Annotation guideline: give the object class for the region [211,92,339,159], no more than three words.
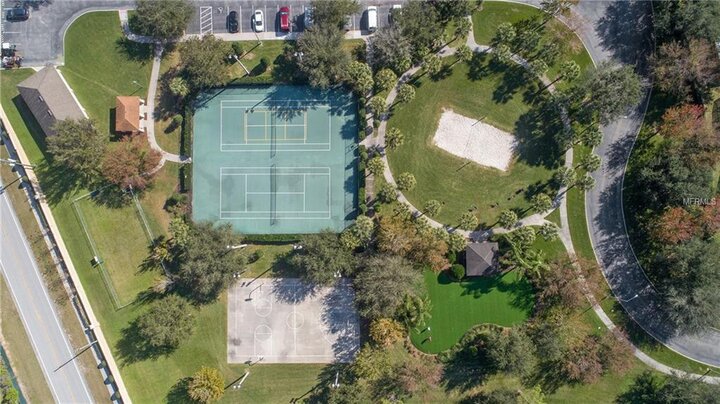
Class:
tennis court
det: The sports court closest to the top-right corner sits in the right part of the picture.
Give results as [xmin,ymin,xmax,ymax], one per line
[434,109,518,171]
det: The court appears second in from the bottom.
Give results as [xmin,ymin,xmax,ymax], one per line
[211,159,339,226]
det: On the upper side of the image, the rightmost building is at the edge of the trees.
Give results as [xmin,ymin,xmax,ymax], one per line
[116,96,150,132]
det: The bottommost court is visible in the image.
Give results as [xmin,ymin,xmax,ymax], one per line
[228,278,361,363]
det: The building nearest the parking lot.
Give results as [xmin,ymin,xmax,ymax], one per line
[17,66,86,145]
